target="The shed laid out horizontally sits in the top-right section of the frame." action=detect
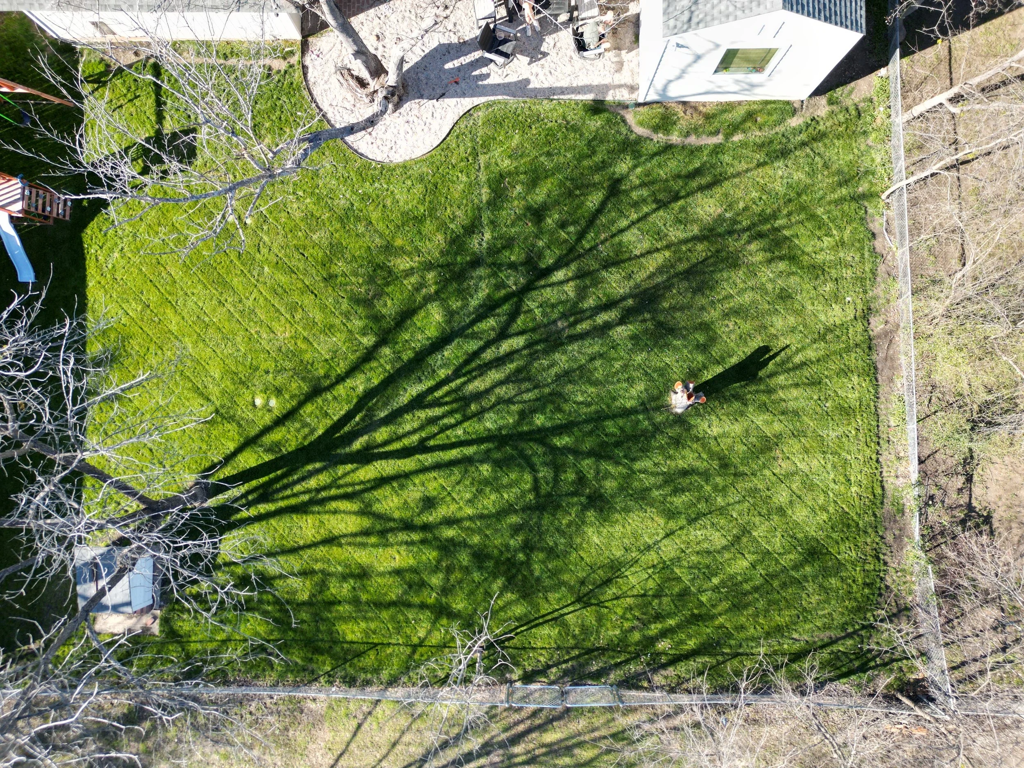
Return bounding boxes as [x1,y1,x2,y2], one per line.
[637,0,874,103]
